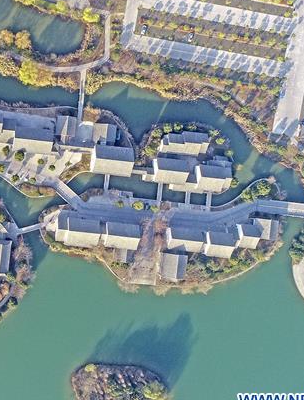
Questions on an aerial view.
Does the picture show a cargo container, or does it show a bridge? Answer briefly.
bridge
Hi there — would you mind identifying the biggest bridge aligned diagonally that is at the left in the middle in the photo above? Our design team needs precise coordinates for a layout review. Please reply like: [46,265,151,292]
[46,172,90,216]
